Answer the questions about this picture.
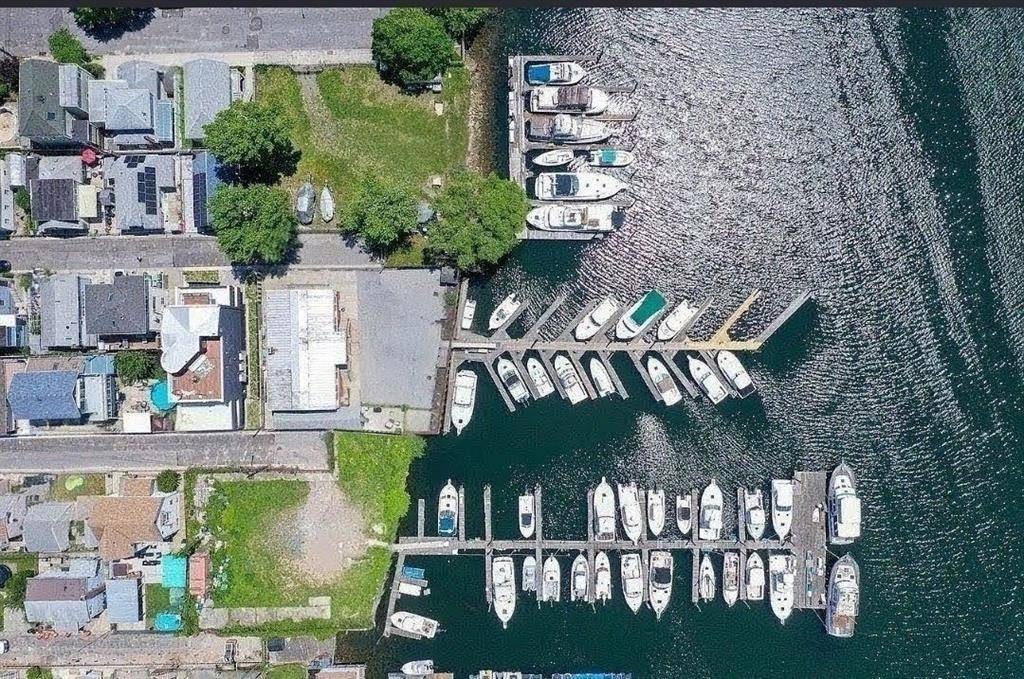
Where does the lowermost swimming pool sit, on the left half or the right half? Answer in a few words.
left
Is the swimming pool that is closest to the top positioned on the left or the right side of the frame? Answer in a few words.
left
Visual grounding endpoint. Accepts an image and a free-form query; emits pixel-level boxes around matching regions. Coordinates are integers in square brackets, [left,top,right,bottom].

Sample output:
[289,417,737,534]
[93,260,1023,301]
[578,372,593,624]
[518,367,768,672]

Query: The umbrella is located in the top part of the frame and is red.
[84,149,99,163]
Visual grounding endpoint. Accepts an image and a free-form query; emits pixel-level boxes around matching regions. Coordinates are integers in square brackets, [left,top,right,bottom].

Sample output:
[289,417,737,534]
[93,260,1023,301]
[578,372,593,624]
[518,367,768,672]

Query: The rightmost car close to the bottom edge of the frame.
[268,638,287,650]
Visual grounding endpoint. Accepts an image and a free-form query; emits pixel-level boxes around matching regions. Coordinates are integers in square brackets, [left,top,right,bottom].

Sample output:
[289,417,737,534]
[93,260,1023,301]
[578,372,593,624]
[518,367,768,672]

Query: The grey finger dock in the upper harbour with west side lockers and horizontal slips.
[509,51,641,239]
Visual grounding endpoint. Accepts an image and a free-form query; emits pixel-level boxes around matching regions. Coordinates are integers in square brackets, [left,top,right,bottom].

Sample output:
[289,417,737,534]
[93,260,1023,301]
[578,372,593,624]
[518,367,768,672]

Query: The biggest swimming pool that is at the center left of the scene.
[148,382,175,410]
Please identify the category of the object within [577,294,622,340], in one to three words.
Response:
boat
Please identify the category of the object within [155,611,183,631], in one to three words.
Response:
swimming pool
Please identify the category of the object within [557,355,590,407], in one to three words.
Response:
boat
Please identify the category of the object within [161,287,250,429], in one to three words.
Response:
building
